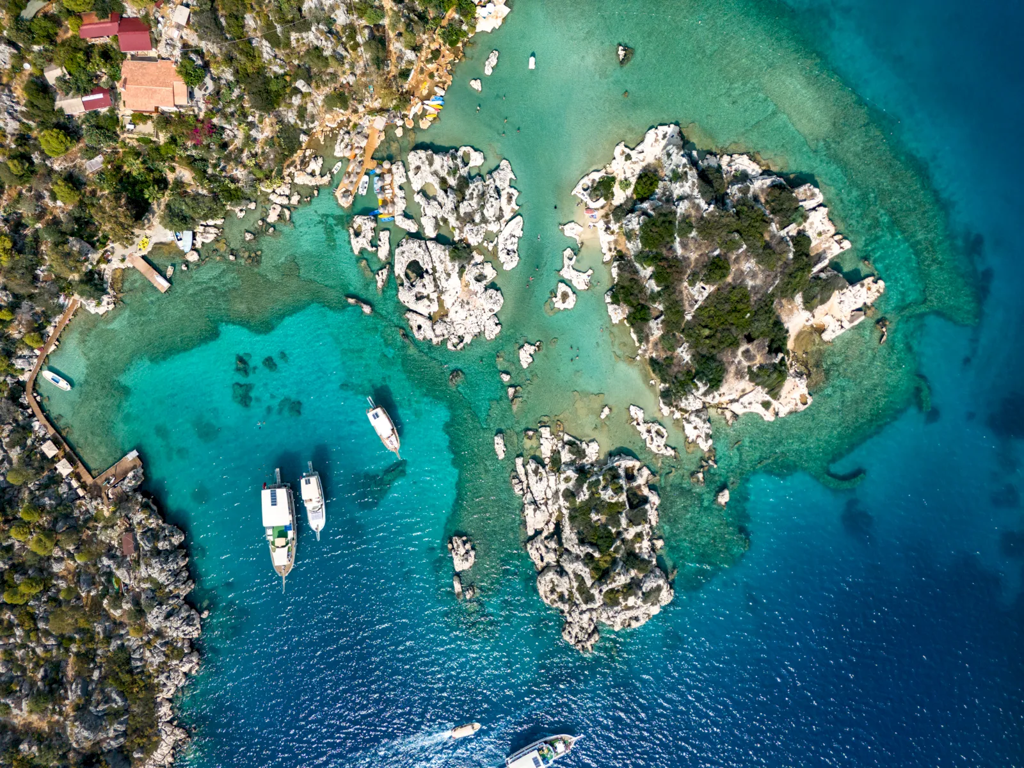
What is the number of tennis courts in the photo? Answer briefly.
0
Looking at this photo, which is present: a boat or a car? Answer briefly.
boat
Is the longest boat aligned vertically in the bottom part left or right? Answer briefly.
left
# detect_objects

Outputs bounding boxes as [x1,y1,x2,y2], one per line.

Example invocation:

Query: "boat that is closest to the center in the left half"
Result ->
[366,397,401,459]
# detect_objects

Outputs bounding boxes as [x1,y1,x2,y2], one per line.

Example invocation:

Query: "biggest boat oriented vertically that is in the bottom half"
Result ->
[261,469,296,593]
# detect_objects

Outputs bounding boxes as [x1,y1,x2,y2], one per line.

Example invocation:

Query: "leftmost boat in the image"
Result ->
[40,371,72,393]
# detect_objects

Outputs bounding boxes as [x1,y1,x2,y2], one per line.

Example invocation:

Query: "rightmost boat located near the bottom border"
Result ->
[506,734,584,768]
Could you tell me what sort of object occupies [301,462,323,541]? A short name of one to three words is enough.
boat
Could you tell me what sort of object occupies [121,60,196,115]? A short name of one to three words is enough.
house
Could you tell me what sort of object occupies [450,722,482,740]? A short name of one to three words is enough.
boat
